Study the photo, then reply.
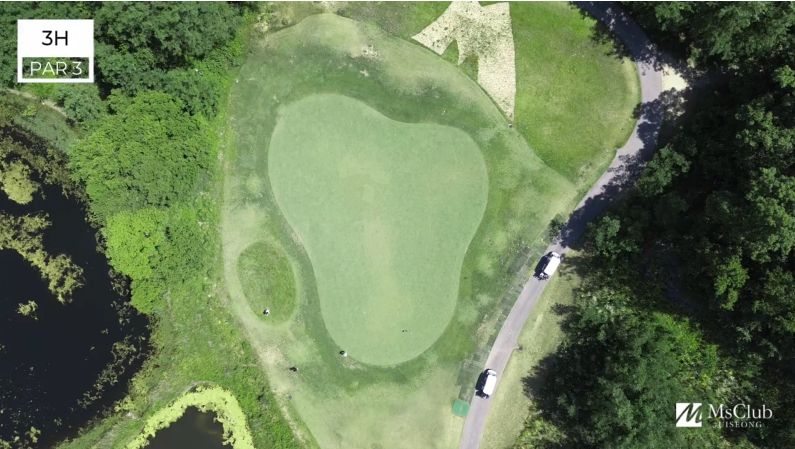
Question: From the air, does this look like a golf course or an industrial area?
golf course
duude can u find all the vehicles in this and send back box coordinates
[537,252,559,278]
[479,368,496,395]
